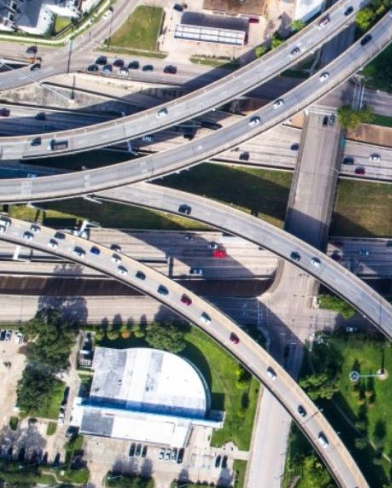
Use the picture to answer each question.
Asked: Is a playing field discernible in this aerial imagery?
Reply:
No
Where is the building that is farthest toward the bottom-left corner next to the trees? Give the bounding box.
[75,347,236,446]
